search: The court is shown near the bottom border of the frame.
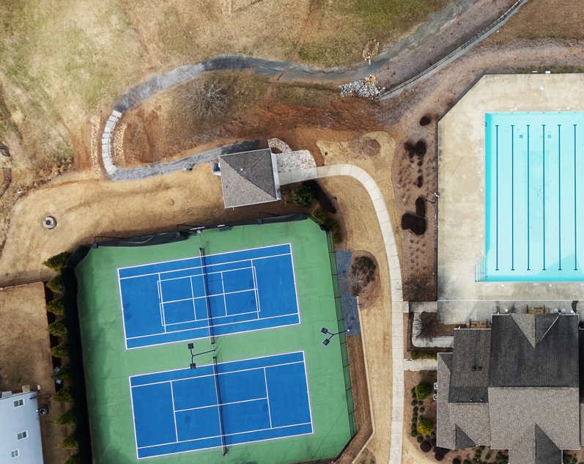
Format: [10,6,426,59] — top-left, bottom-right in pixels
[129,352,313,458]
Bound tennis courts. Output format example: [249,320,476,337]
[118,243,300,349]
[129,352,313,458]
